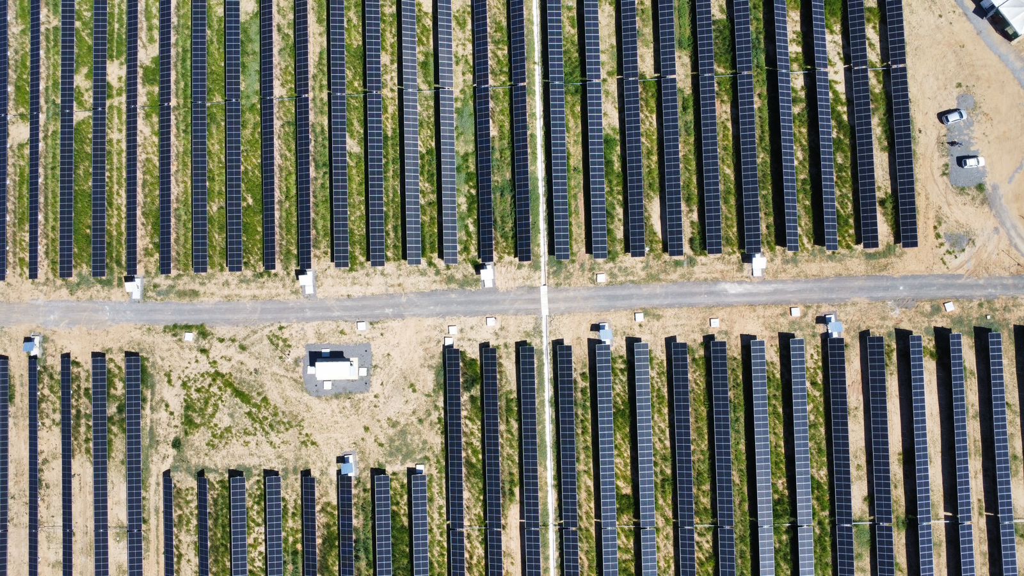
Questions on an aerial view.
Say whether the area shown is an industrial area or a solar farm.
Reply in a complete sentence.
The picture captures a solar farm.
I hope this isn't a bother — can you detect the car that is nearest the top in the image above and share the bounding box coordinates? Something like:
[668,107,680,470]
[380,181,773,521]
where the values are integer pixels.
[939,109,967,126]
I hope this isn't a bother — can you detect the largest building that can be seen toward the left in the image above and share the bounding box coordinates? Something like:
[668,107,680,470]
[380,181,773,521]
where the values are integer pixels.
[315,359,357,380]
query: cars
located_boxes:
[958,156,986,170]
[939,109,967,126]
